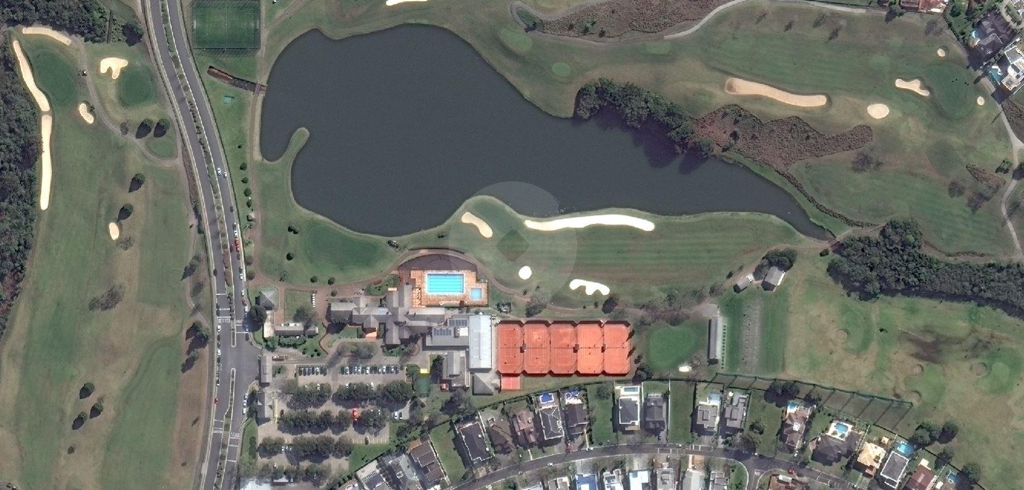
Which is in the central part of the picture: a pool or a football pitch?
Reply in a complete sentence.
Looking in the central part of the picture, you will find a pool.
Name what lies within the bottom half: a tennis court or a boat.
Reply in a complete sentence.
Looking within the bottom half, you will find a tennis court.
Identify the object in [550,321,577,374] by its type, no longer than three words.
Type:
tennis court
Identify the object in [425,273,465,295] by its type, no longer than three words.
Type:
swimming pool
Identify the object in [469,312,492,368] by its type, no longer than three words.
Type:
building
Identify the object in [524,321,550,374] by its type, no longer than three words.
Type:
tennis court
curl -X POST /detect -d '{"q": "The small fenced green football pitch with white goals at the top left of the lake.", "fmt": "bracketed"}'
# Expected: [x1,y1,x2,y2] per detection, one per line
[193,2,260,48]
